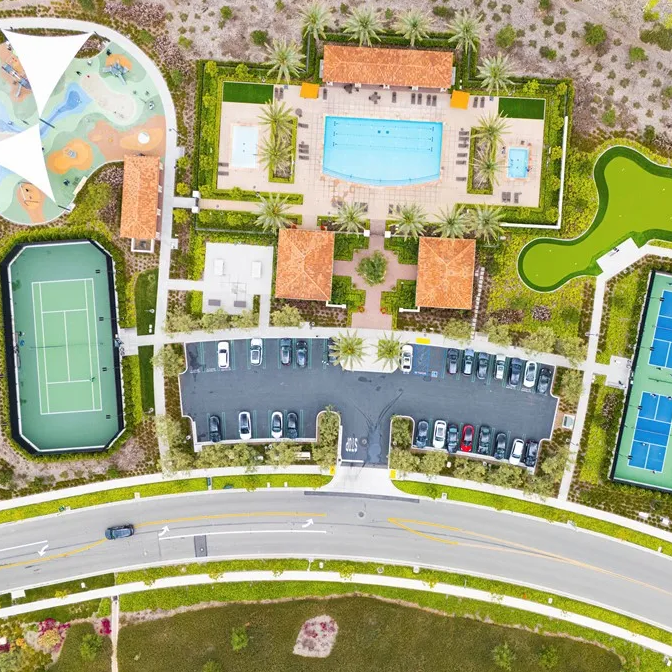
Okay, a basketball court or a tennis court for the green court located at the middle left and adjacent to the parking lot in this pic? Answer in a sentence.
It turns out the green court located at the middle left and adjacent to the parking lot is a tennis court.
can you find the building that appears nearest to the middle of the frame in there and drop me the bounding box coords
[275,229,335,301]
